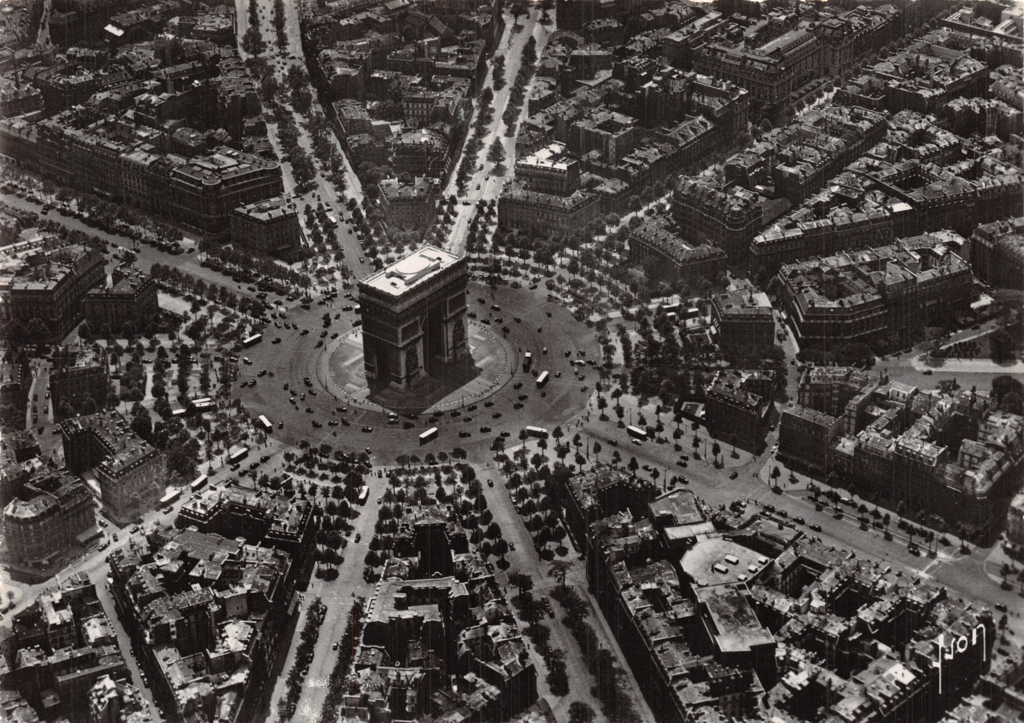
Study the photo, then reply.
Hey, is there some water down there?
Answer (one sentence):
No, water can't be seen anywhere here.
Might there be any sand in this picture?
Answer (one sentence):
No, the scene doesn't show any sand.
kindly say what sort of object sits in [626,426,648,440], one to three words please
vehicle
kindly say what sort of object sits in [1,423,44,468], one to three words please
house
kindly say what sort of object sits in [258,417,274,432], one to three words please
vehicle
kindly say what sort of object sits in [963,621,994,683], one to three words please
house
